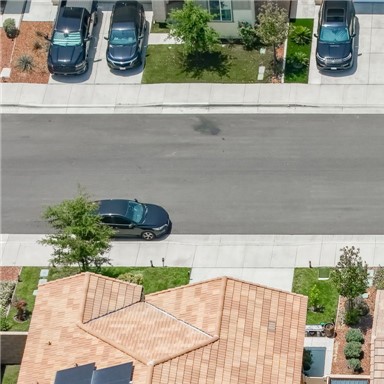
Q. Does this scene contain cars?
Yes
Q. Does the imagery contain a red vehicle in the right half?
No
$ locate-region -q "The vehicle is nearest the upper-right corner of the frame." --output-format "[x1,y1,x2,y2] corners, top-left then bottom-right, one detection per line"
[314,1,360,73]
